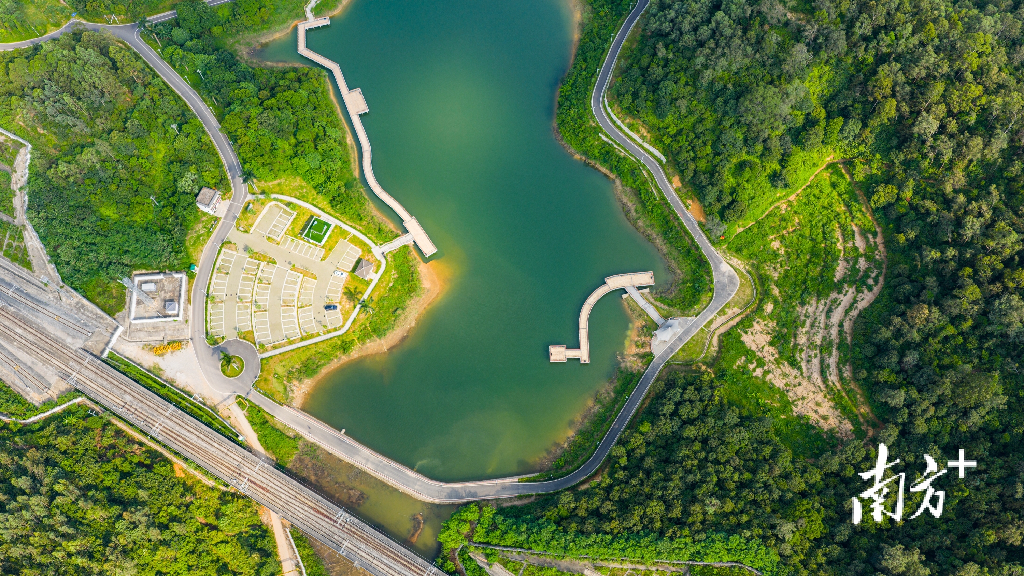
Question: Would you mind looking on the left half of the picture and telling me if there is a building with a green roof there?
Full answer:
Yes, a building with a green roof appears on the left half of the picture.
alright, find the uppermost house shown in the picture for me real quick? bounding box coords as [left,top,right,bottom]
[196,187,225,215]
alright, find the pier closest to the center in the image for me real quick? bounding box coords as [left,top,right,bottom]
[549,270,655,365]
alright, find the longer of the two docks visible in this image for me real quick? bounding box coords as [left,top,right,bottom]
[297,15,438,260]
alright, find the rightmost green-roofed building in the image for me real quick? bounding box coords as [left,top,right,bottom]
[303,216,334,249]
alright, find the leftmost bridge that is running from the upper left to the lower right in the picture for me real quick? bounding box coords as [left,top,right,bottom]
[64,344,448,576]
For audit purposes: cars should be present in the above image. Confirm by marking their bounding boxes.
[334,270,346,277]
[324,304,337,310]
